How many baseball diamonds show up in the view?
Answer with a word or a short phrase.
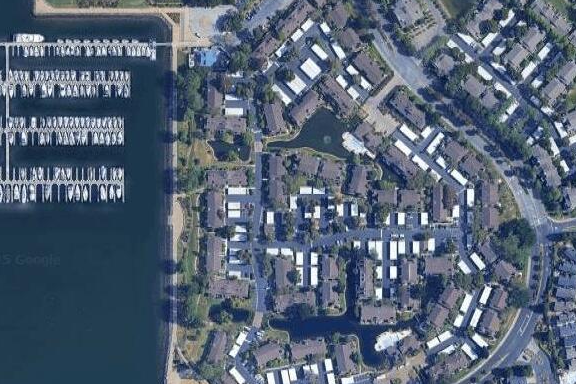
0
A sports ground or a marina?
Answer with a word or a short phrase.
marina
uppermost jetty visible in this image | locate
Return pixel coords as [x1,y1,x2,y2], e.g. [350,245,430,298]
[0,43,169,56]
